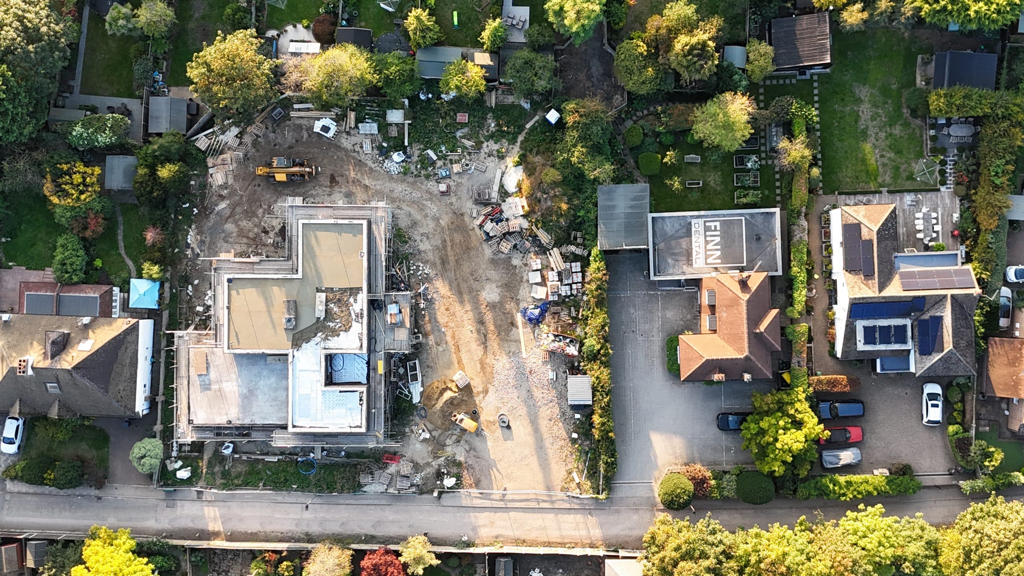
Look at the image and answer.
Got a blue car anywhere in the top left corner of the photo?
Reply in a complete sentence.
No, no blue car is visible in the top left corner of the photo.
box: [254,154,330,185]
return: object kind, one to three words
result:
work vehicle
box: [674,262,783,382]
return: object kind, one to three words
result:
house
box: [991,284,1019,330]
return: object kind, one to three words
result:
car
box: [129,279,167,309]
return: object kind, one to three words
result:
gazebo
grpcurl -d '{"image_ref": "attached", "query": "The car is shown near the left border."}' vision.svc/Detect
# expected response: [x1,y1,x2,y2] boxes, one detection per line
[0,417,29,456]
